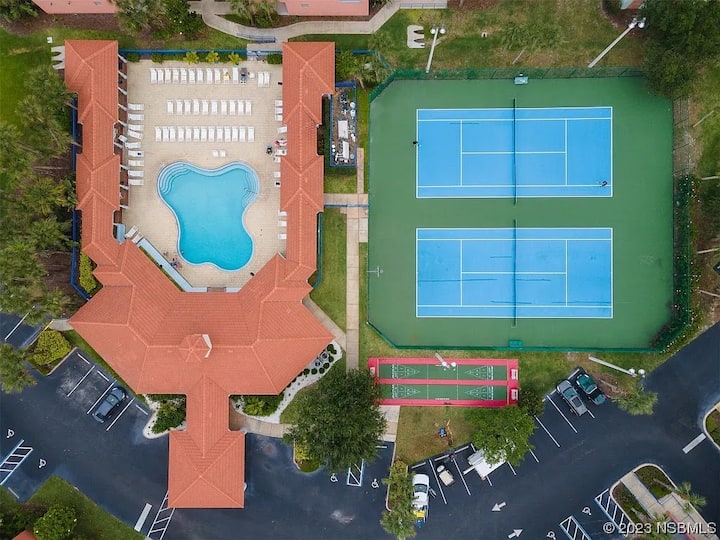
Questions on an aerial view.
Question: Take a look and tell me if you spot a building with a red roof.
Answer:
Yes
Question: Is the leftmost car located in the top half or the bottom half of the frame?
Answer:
bottom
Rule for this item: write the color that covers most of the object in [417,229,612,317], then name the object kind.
blue tennis court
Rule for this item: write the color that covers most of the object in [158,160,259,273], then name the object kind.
blue swimming pool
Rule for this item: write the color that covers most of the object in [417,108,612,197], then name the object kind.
blue tennis court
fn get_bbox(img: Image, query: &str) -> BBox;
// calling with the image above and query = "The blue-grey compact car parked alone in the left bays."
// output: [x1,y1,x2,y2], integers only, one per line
[90,388,124,424]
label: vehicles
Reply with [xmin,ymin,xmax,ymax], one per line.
[412,475,436,526]
[575,369,609,407]
[556,380,592,420]
[436,464,455,490]
[90,388,124,424]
